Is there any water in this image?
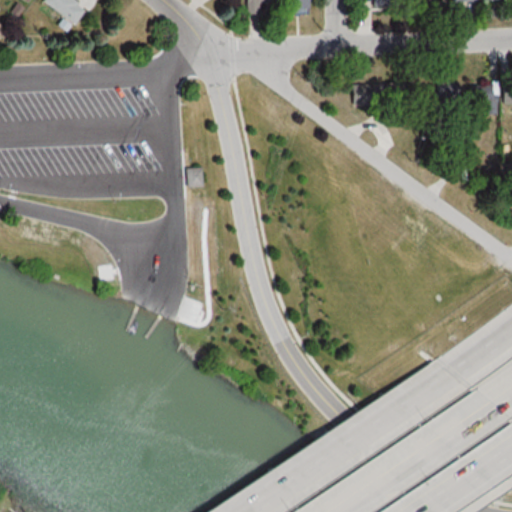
Yes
